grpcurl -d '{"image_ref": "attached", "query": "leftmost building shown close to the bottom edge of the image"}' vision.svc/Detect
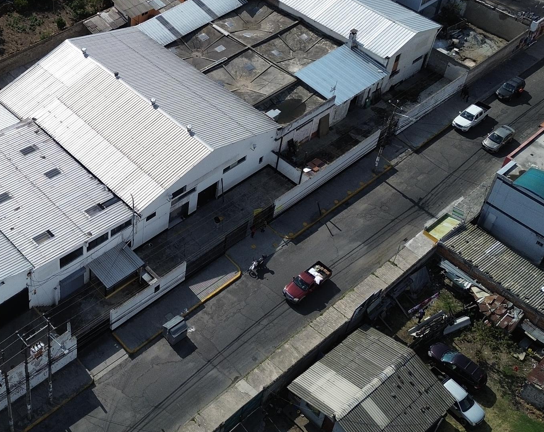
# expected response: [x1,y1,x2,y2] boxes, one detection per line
[287,325,455,432]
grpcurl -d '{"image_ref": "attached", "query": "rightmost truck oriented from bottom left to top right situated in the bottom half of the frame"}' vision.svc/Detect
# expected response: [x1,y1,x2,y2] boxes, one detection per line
[283,261,335,304]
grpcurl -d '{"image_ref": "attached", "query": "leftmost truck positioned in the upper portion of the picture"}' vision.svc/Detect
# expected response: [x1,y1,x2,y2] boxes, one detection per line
[451,102,495,130]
